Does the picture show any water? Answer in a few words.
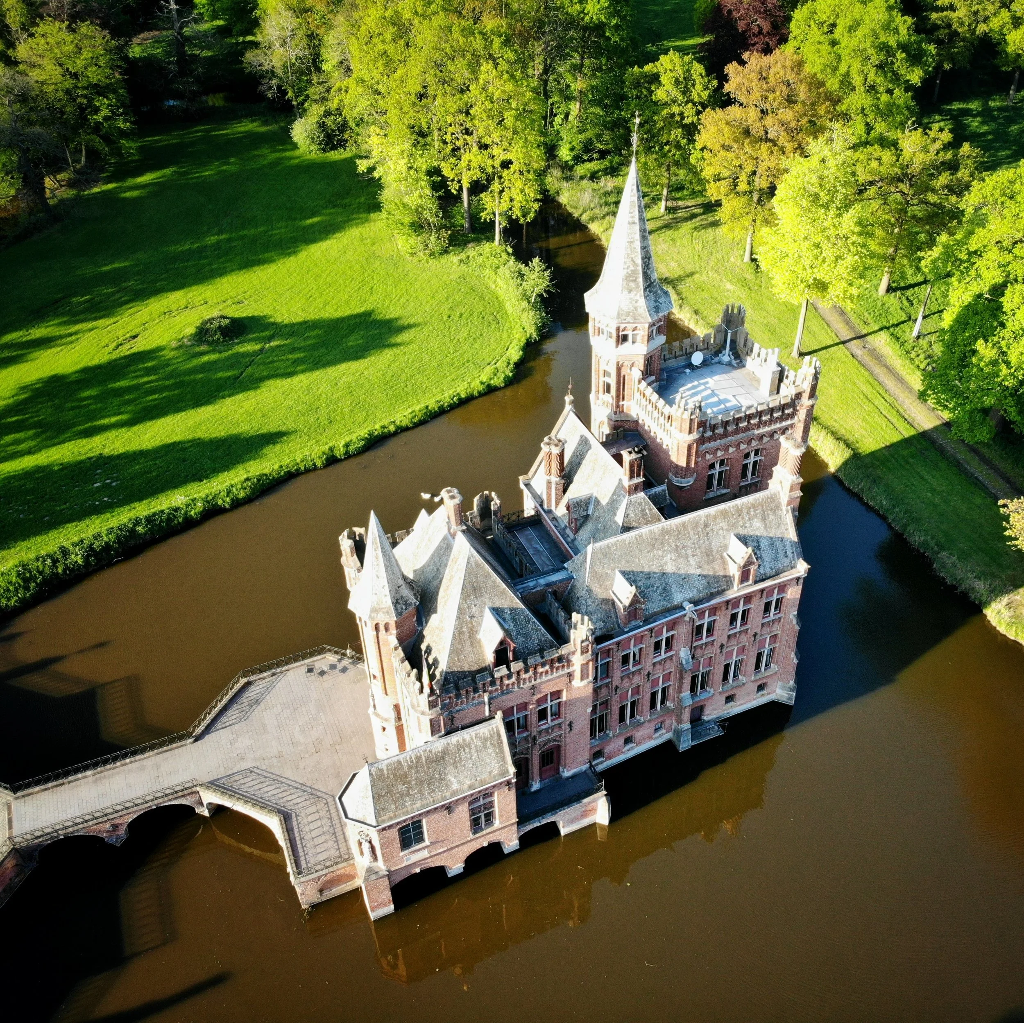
Yes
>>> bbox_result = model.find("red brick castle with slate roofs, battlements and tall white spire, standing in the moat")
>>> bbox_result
[336,109,822,805]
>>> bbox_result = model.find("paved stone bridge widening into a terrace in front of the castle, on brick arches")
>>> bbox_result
[0,651,414,911]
